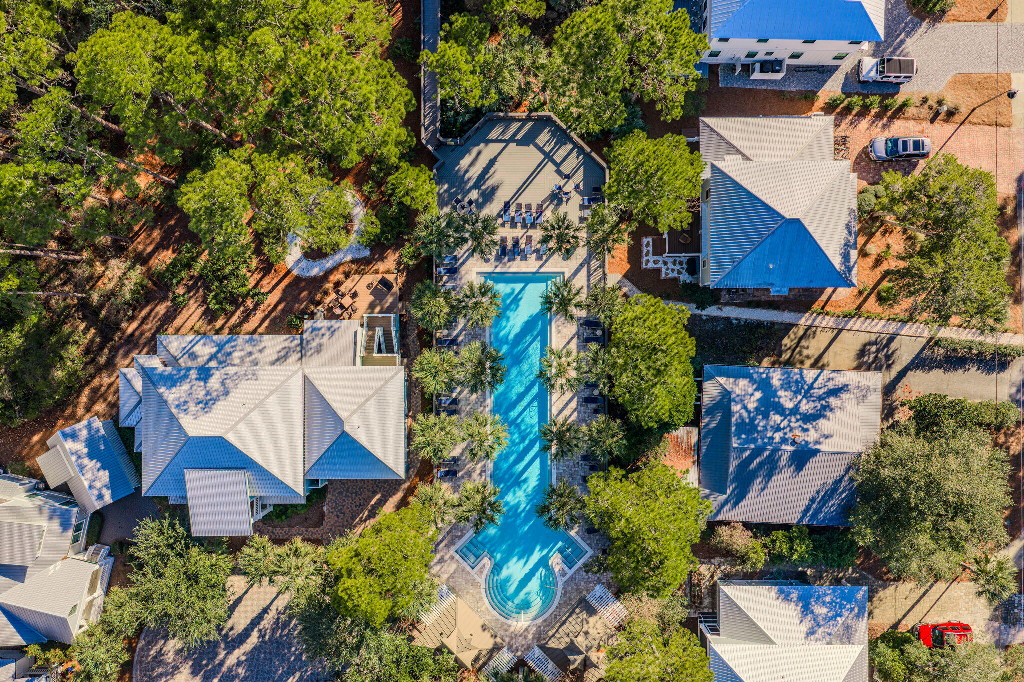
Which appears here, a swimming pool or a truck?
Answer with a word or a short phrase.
swimming pool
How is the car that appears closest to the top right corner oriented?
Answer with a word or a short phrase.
horizontally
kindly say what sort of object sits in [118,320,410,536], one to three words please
building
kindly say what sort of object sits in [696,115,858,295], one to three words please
house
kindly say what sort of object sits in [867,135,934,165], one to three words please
car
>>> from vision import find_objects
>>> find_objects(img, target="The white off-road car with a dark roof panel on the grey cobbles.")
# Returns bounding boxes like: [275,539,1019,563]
[857,56,921,88]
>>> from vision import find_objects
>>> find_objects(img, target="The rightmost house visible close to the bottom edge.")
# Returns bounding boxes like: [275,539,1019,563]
[689,567,870,682]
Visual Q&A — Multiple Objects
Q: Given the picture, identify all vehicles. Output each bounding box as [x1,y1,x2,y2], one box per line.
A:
[867,135,934,165]
[857,56,921,88]
[913,615,979,649]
